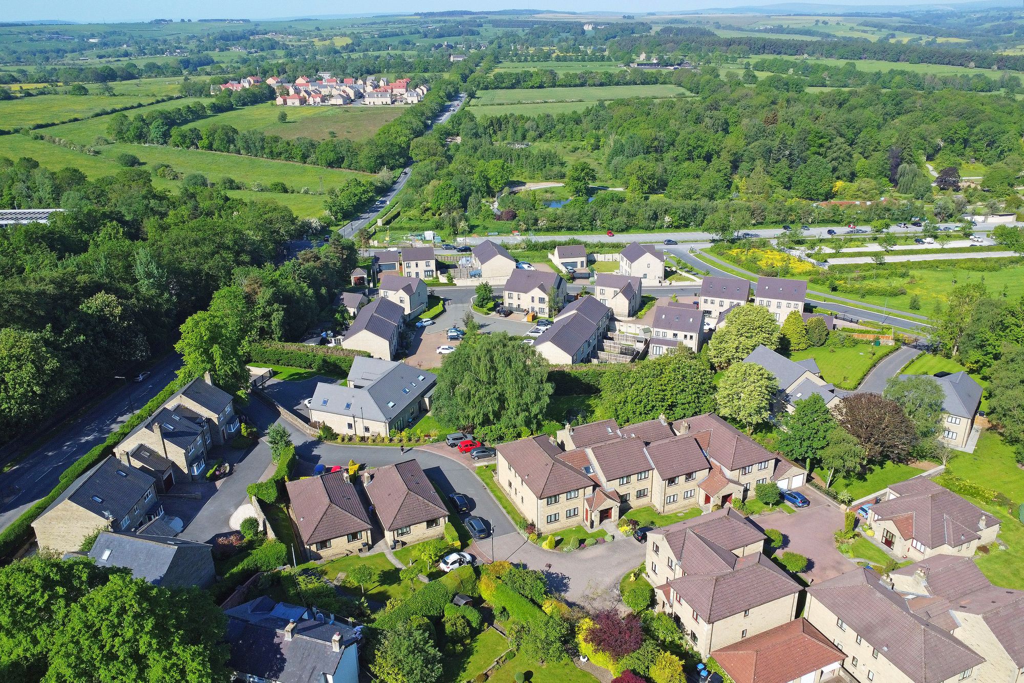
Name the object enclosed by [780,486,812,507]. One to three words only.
car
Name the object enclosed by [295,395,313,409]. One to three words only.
car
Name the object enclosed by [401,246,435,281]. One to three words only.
house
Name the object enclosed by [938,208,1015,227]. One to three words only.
building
